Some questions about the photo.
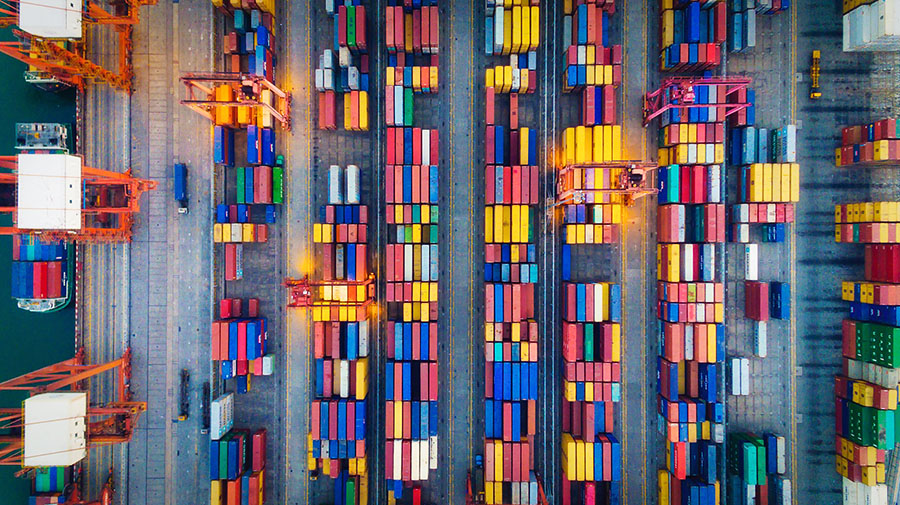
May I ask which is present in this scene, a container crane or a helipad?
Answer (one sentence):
It is a container crane that can be seen here.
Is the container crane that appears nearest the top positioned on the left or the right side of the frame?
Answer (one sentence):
You can find the container crane that appears nearest the top on the left side of the picture.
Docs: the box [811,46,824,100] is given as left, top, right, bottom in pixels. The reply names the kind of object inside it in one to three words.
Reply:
vehicle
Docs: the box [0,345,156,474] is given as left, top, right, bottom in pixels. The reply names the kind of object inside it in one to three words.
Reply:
container crane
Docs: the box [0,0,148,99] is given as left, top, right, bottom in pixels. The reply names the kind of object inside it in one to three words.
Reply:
container crane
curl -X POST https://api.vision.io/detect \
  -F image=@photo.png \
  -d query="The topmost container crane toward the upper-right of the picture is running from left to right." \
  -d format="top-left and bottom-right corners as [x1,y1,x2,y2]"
[644,76,753,129]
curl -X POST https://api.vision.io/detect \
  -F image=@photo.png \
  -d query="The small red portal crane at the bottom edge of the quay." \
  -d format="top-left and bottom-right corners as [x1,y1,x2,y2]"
[47,468,114,505]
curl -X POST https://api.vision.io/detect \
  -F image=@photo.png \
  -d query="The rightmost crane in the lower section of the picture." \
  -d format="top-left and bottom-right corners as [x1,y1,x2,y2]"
[467,470,550,505]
